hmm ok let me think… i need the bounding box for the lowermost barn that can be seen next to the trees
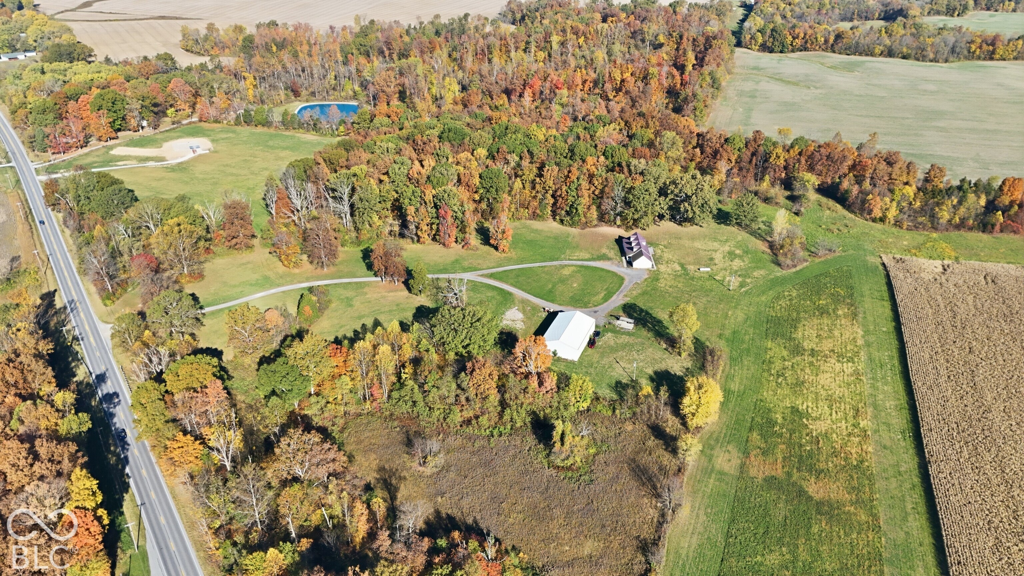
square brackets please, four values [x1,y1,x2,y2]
[542,309,596,361]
